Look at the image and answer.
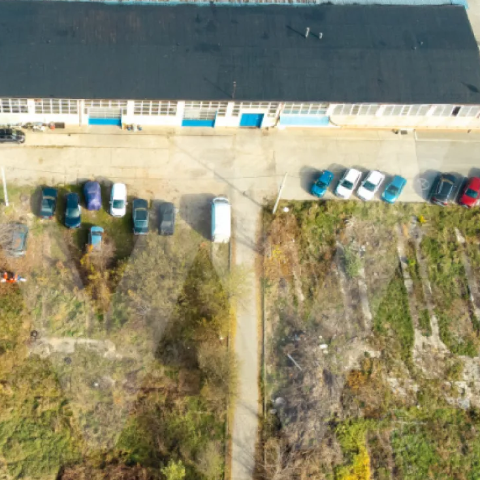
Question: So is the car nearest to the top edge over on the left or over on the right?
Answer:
left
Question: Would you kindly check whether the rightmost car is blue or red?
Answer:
red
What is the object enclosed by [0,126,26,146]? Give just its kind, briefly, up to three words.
car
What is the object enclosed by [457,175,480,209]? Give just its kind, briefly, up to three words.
car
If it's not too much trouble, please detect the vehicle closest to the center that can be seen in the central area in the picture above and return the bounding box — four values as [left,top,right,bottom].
[209,194,233,247]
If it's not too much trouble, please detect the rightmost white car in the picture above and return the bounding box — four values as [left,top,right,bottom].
[357,168,386,203]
